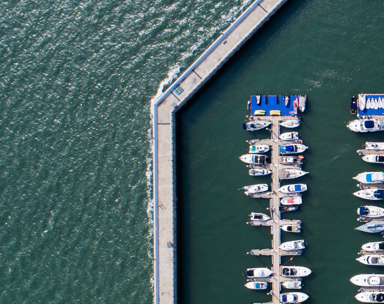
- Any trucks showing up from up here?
No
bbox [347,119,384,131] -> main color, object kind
white boat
